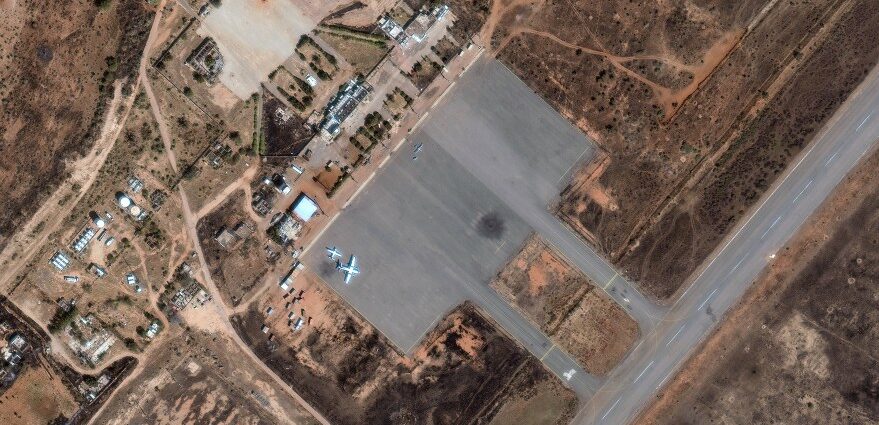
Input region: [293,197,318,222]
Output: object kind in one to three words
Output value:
hangar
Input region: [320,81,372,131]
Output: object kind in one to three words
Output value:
building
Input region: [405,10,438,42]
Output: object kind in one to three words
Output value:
building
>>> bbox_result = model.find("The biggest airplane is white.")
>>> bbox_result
[336,256,360,283]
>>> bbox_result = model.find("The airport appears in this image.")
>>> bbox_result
[299,50,879,425]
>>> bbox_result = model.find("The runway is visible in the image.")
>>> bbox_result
[561,62,879,425]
